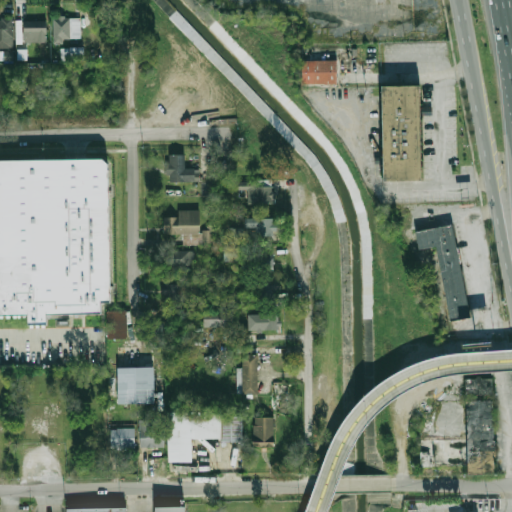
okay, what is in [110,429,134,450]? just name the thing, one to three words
shed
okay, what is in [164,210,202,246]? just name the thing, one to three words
house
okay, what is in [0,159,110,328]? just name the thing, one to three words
building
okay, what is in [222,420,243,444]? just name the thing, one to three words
shed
